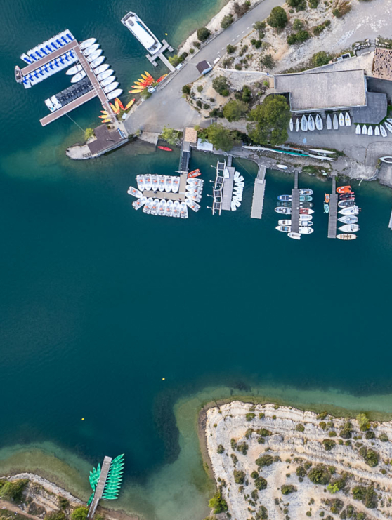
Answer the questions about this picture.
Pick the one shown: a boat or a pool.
boat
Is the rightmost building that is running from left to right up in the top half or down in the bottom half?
top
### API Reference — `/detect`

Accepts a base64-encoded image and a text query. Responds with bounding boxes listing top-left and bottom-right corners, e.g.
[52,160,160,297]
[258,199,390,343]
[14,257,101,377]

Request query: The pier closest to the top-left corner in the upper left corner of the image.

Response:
[21,40,117,126]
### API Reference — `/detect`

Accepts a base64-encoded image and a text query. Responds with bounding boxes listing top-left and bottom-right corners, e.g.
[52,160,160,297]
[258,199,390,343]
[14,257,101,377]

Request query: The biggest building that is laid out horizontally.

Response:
[274,70,366,115]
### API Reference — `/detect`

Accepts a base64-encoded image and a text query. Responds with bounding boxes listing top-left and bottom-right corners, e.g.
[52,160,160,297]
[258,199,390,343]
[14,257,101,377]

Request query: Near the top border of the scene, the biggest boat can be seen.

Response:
[119,12,161,55]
